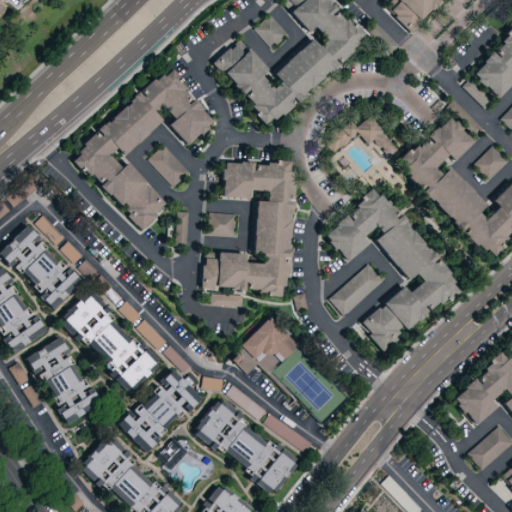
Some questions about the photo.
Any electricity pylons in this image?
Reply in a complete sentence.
No, this view has no electricity pylon in it.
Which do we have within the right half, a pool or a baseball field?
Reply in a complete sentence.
You can see a pool within the right half.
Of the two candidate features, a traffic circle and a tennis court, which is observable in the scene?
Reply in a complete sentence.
I can see a tennis court in this picture.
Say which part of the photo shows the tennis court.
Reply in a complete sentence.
You can find the tennis court in the bottom area of the picture.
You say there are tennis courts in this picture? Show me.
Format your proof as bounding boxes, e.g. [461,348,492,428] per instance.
[272,351,348,422]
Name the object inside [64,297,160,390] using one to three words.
building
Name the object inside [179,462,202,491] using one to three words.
swimming pool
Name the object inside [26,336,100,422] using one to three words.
building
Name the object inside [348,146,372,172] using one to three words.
swimming pool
